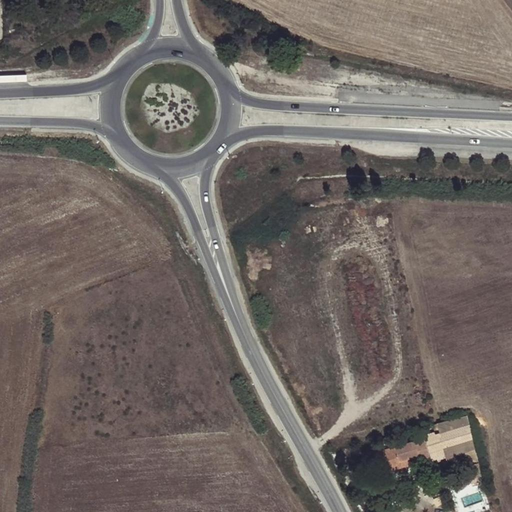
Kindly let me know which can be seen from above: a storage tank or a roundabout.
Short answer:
roundabout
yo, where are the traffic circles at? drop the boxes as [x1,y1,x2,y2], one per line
[100,38,240,178]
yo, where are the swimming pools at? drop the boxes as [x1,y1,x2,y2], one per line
[460,492,483,508]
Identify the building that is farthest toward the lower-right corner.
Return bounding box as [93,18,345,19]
[428,416,479,464]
